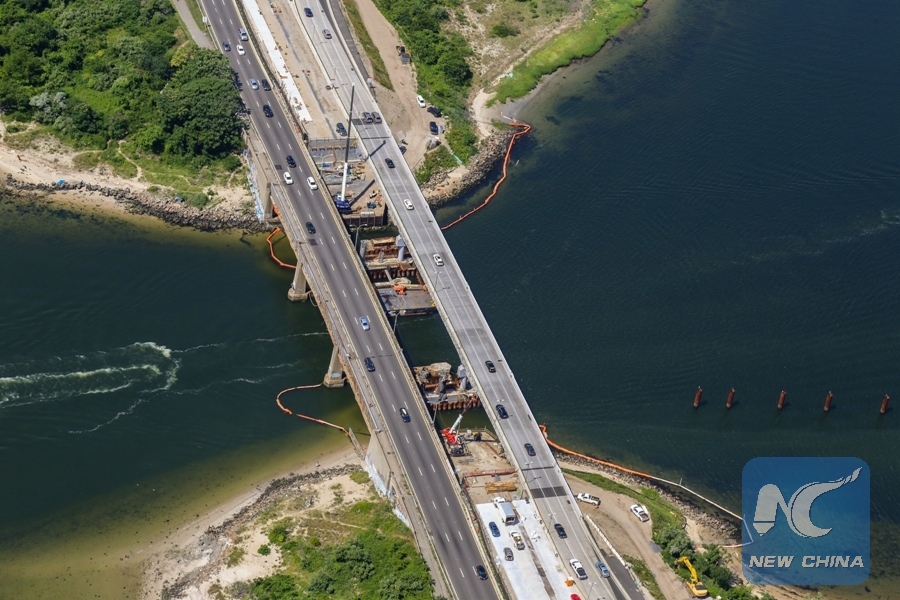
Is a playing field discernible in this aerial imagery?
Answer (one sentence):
No, the picture doesn't show any playing field.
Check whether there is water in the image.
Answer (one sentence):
Yes, some water is visible.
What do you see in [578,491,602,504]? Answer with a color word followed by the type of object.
white vehicle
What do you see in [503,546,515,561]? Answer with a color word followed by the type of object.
gray vehicle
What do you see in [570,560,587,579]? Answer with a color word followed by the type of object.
white vehicle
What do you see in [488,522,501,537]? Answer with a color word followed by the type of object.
blue vehicle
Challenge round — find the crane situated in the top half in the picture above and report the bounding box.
[333,82,359,215]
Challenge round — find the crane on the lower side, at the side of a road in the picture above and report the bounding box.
[440,396,475,456]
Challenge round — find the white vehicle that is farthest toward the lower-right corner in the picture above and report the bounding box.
[632,503,650,521]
